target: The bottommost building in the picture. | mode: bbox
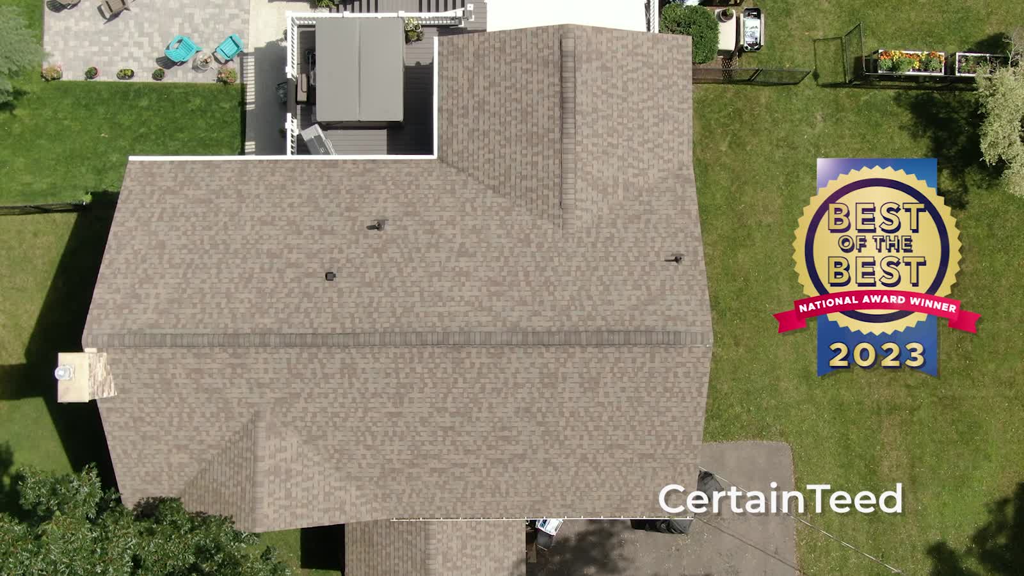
[57,25,713,576]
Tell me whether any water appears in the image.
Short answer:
No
